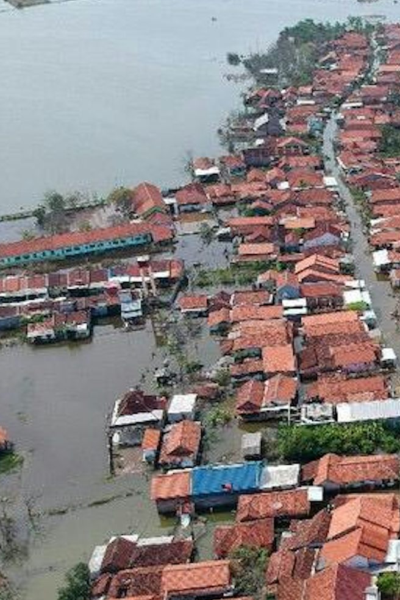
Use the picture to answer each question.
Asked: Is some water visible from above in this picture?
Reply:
Yes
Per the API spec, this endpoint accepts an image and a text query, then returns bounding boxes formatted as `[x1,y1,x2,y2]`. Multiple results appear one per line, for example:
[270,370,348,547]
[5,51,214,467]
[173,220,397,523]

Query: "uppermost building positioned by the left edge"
[0,223,154,267]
